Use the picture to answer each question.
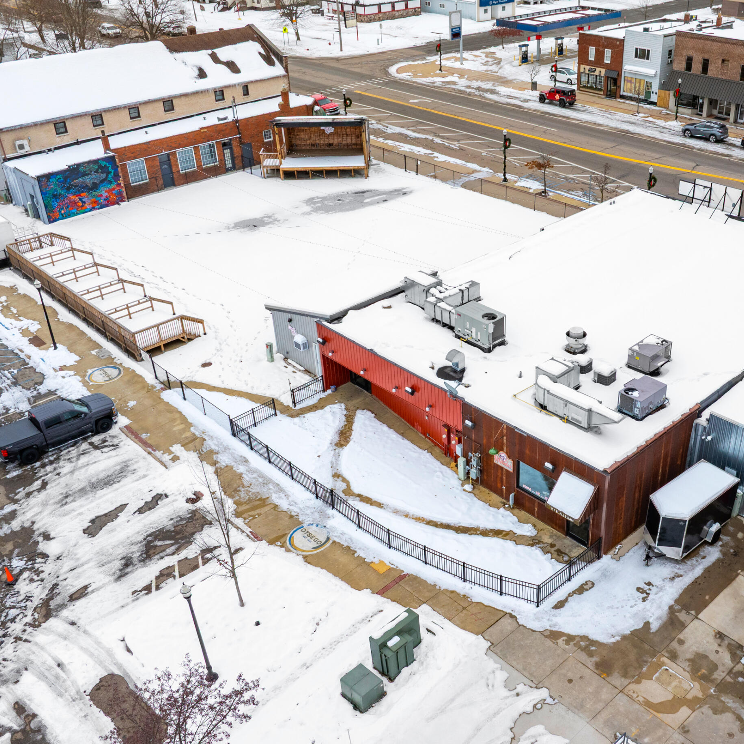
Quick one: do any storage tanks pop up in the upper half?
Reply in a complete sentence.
No, no storage tank appears in the upper half.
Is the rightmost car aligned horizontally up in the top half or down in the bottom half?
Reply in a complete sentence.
The rightmost car aligned horizontally sits in the top half of the picture.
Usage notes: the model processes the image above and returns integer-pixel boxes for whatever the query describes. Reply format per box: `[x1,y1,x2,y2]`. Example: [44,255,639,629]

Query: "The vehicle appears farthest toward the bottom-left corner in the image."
[0,392,122,466]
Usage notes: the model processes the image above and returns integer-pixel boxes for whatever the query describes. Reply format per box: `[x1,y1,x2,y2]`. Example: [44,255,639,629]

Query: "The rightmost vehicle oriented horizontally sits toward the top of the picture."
[681,119,731,141]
